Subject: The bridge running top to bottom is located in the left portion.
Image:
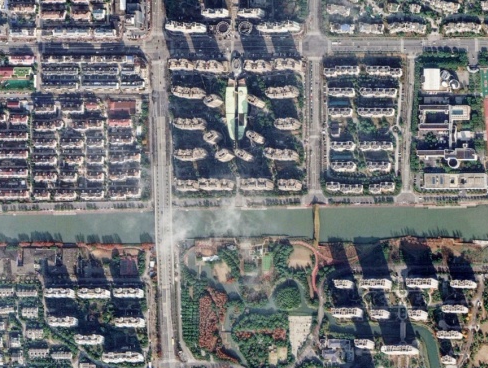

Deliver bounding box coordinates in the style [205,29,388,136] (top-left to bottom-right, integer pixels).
[153,149,177,315]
